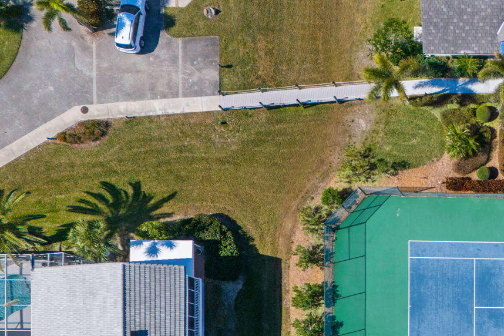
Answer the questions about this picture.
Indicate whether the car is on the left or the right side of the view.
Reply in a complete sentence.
The car appears in the left half of the scene.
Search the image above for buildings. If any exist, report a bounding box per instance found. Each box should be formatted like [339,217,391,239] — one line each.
[421,0,504,65]
[31,240,204,336]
